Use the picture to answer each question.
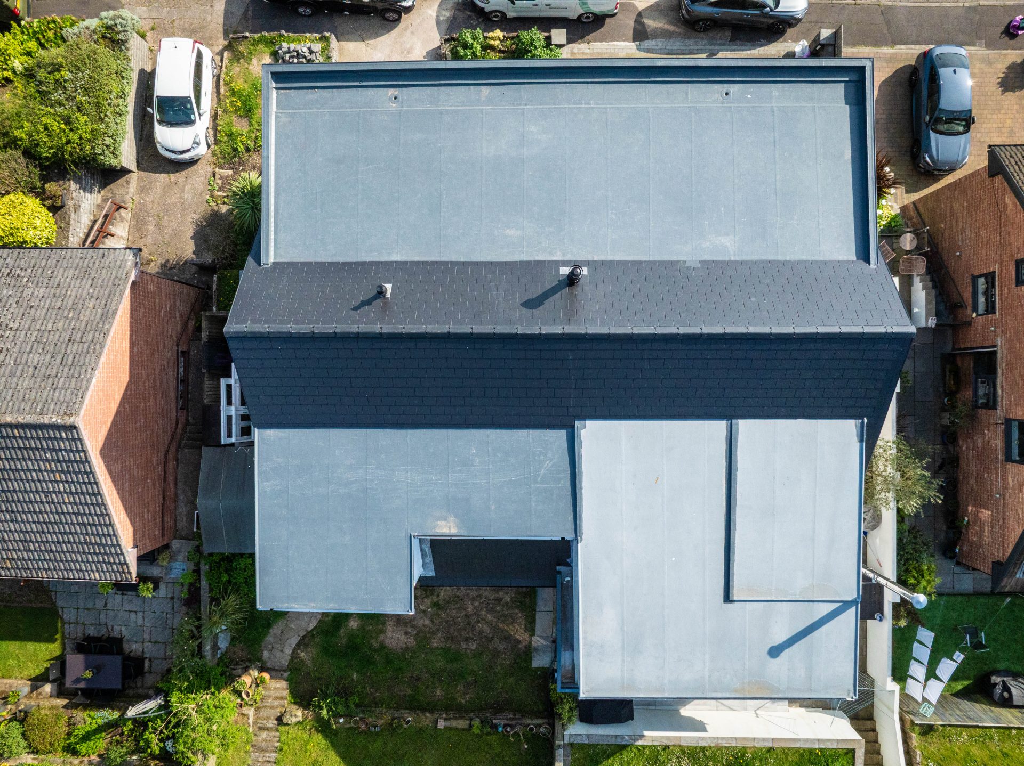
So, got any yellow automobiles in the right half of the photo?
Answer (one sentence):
No, looking in the right half of the photo, there is no yellow automobile.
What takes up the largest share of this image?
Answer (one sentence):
What you mostly see from above here is buildings.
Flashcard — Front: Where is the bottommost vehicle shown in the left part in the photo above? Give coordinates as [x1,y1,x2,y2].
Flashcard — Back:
[146,36,217,167]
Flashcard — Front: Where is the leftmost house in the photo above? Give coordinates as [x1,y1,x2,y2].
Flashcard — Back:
[0,244,205,585]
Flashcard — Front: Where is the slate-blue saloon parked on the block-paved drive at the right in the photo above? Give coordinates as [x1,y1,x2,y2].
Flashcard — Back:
[906,39,983,180]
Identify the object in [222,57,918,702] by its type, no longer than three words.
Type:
house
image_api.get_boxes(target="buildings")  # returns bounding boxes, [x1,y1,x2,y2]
[899,141,1024,600]
[222,57,918,702]
[0,244,205,585]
